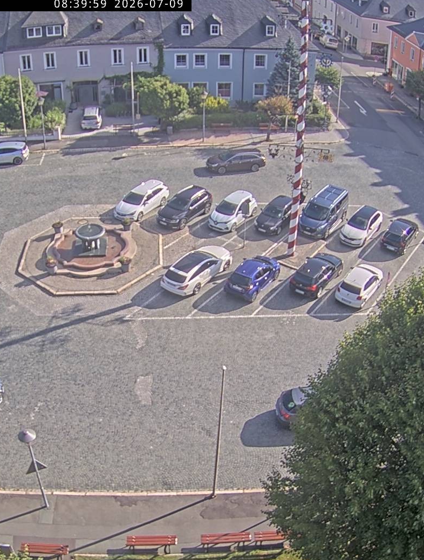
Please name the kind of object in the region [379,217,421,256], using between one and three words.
car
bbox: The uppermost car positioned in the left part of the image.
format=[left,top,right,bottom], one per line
[81,104,103,126]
